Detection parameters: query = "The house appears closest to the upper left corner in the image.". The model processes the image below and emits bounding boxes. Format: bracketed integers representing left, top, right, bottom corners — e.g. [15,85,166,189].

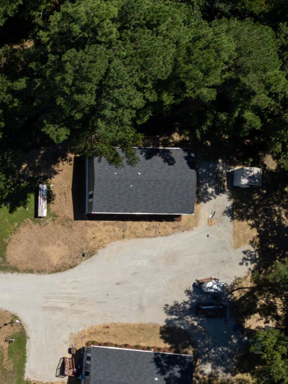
[86,136,201,214]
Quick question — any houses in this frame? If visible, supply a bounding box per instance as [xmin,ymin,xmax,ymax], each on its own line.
[86,136,201,214]
[63,345,195,384]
